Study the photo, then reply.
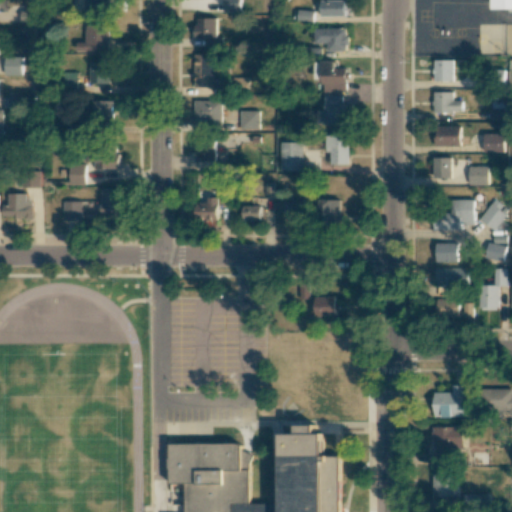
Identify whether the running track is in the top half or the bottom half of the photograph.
bottom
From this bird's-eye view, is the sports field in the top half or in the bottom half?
bottom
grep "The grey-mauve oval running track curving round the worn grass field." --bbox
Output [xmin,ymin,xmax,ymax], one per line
[0,283,142,512]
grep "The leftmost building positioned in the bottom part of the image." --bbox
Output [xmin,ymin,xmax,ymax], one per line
[168,443,272,512]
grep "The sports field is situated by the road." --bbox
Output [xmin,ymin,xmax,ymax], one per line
[0,344,128,512]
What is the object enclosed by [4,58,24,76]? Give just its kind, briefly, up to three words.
building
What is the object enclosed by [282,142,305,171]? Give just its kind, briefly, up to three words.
building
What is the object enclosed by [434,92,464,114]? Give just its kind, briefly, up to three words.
house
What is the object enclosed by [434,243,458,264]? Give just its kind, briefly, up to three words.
house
